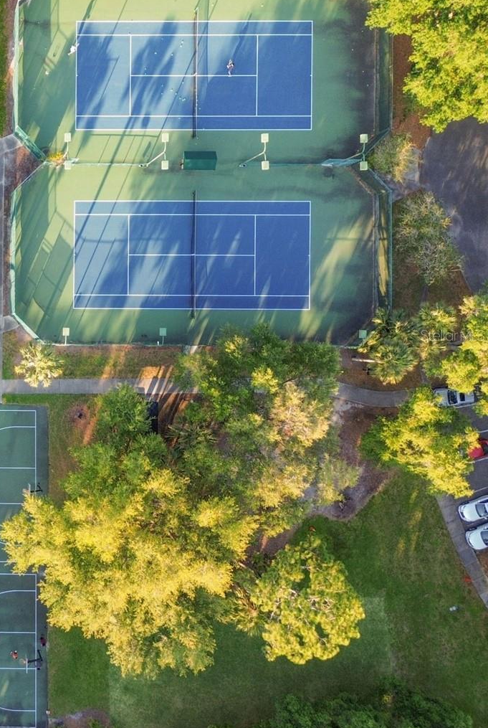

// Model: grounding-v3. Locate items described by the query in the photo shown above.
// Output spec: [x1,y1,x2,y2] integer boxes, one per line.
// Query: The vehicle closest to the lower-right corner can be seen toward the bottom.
[468,529,488,551]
